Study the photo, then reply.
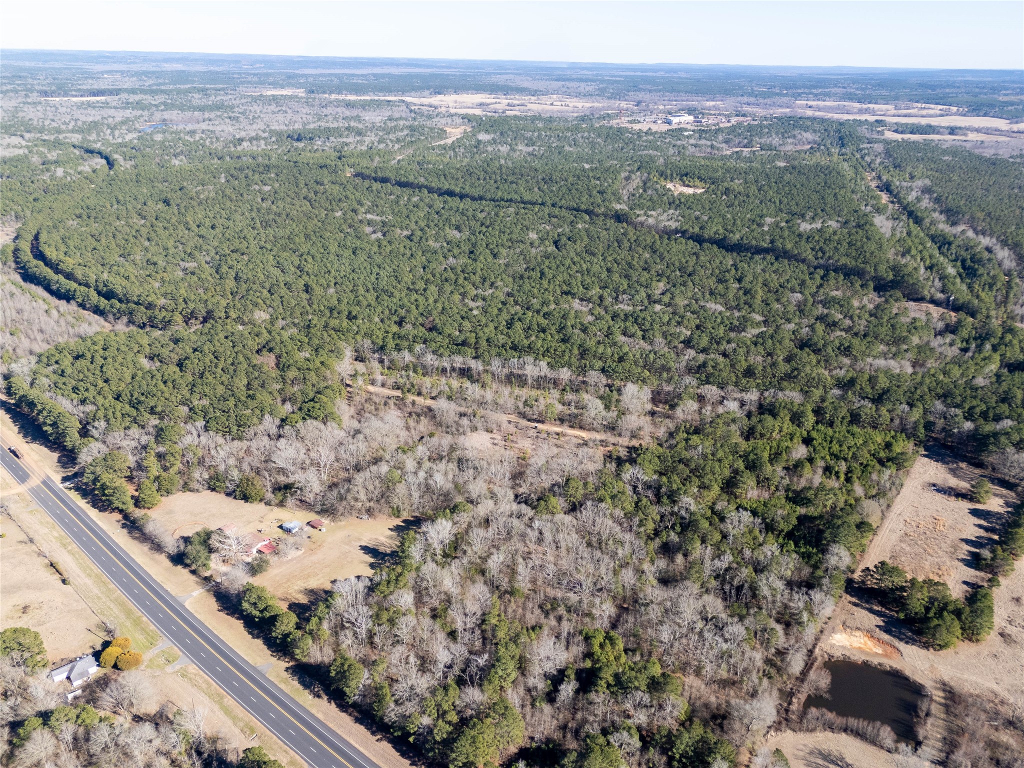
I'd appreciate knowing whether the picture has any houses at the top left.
No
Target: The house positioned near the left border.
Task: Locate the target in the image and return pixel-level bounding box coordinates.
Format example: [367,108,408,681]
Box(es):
[49,655,101,687]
